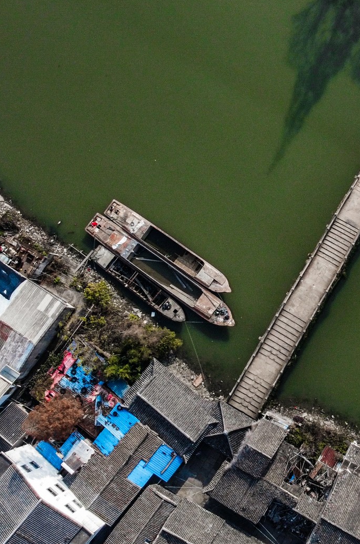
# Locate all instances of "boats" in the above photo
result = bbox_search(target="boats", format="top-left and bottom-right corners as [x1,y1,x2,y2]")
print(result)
[103,196,234,295]
[91,245,187,323]
[84,212,236,329]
